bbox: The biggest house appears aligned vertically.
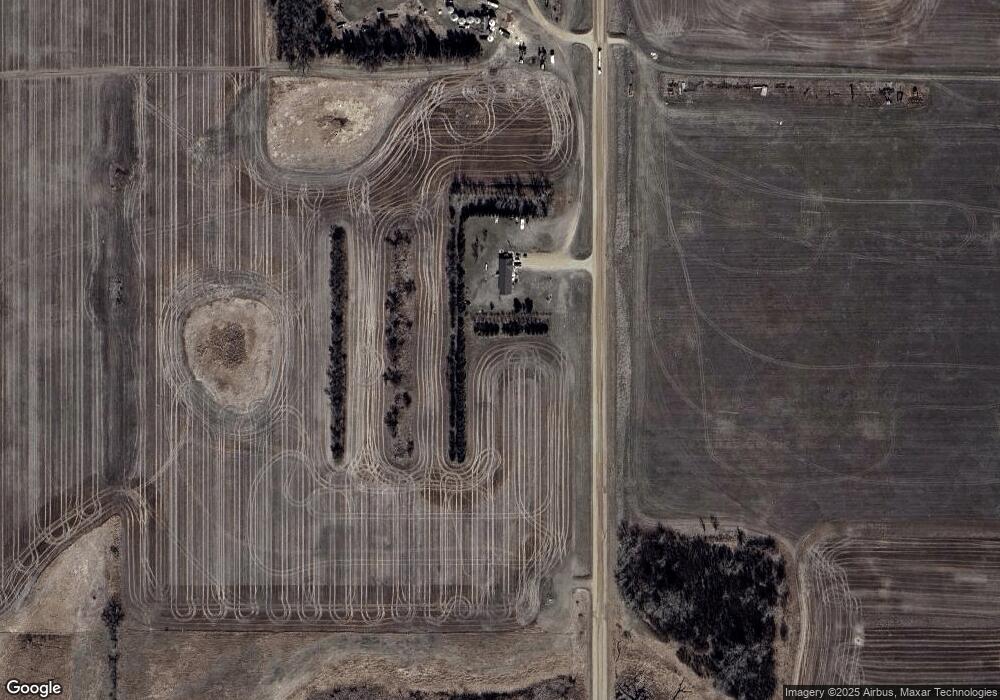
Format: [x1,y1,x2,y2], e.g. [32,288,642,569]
[499,260,514,297]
